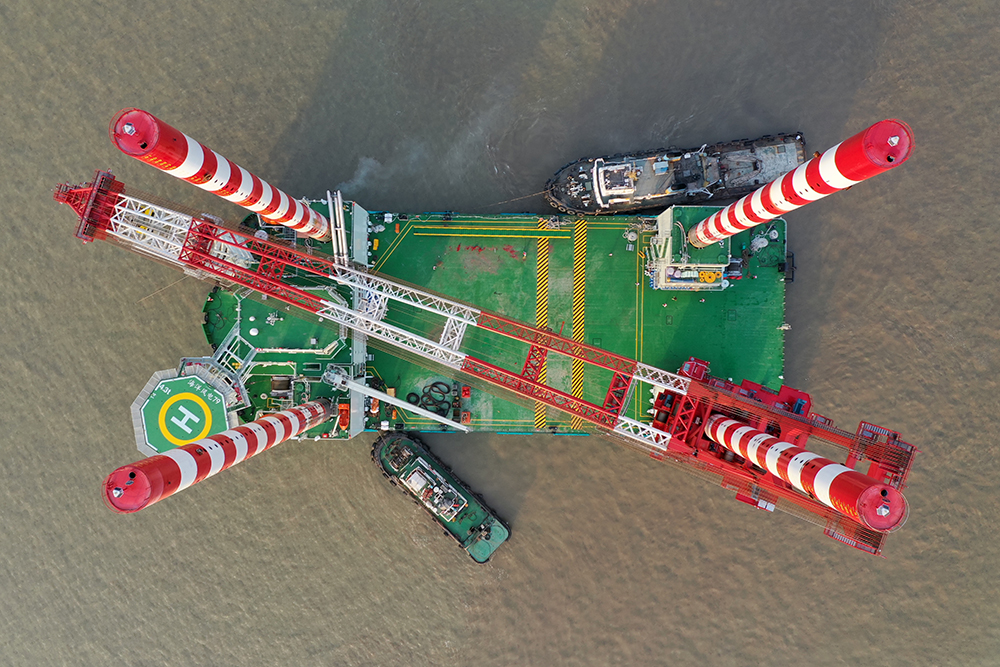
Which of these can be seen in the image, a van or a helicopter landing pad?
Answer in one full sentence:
The image shows a helicopter landing pad.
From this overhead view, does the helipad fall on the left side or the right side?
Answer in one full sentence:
You can find the helipad on the left side of the picture.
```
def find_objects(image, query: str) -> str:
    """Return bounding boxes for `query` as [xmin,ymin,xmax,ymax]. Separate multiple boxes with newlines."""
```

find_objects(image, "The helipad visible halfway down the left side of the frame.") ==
[131,323,260,456]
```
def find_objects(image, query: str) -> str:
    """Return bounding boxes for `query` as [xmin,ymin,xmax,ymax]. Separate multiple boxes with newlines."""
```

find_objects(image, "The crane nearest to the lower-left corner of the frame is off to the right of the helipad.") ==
[323,365,472,435]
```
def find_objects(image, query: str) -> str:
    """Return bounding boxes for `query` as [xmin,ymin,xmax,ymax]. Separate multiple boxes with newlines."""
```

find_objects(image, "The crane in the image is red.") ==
[49,167,926,559]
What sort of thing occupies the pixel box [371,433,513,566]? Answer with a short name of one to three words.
boat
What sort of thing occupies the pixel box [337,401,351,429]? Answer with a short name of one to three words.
boat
